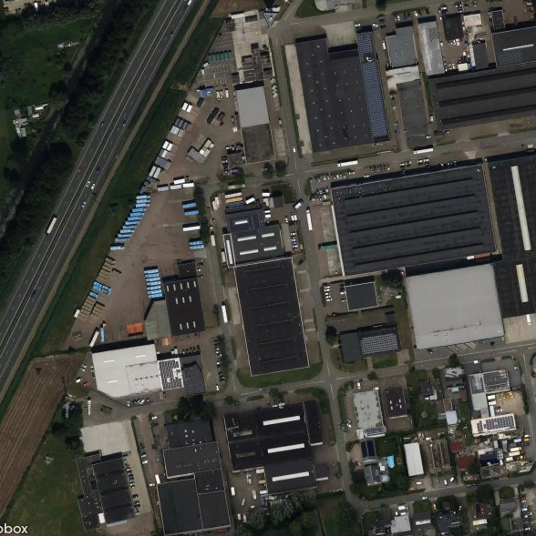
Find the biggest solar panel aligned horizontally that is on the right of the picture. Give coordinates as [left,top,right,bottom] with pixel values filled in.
[361,332,398,355]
